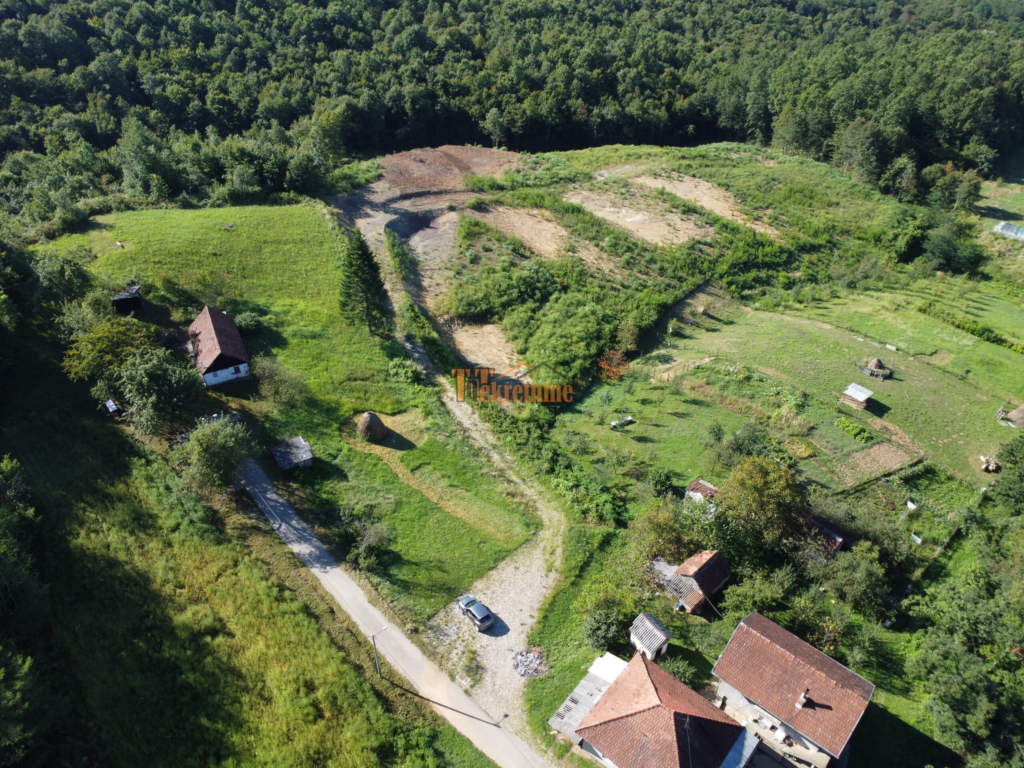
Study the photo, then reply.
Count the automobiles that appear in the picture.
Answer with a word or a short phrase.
1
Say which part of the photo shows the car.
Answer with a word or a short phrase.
bottom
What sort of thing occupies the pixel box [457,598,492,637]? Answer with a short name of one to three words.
car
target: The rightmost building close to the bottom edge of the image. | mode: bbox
[710,611,877,768]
